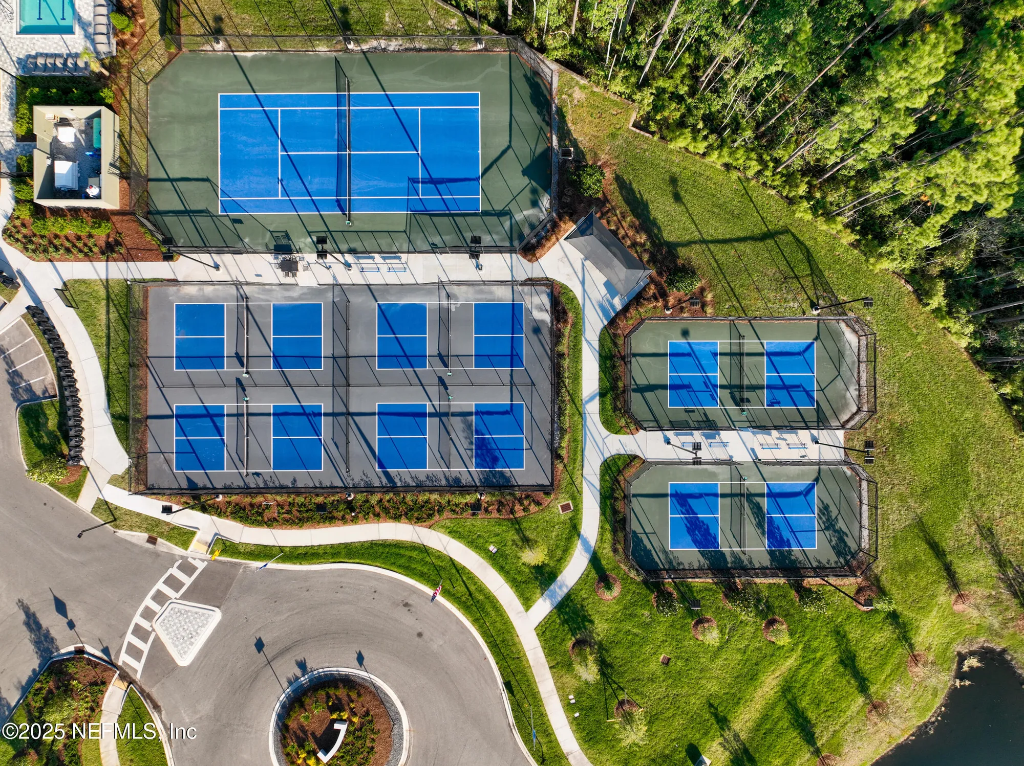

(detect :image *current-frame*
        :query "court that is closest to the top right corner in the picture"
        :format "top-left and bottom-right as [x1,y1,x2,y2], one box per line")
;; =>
[631,322,859,428]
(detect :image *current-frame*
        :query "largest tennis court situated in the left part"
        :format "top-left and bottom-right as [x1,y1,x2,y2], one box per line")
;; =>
[148,51,550,253]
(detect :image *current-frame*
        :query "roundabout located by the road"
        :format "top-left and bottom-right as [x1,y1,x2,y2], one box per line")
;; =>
[269,668,408,766]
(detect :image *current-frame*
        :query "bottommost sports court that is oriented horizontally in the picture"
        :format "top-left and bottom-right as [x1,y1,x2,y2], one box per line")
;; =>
[631,464,861,570]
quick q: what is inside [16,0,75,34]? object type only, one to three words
swimming pool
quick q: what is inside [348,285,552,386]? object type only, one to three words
sports court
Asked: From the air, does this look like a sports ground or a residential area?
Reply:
sports ground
